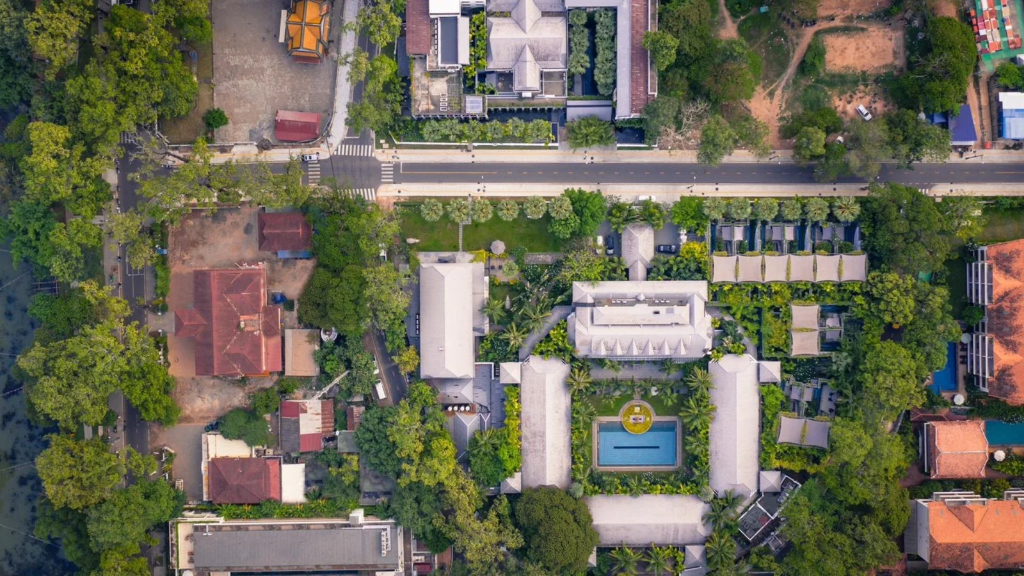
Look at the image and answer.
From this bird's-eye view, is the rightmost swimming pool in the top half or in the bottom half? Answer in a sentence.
It is in the bottom half that the rightmost swimming pool appears.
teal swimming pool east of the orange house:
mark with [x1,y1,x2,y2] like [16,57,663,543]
[983,418,1024,447]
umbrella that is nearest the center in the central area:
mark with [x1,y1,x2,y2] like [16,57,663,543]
[490,240,504,254]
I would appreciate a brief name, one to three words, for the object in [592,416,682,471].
swimming pool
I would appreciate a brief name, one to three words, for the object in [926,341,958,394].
swimming pool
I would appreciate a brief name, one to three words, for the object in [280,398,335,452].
shed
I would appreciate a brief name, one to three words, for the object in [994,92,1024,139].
building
